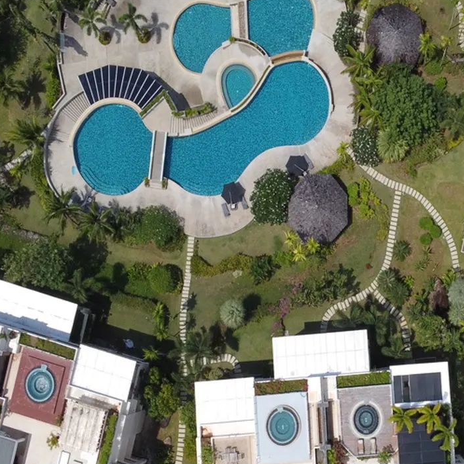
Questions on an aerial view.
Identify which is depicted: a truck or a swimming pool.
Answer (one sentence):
Looking from above, you can make out a swimming pool.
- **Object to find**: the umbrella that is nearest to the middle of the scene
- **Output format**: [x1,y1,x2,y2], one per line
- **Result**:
[222,183,245,207]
